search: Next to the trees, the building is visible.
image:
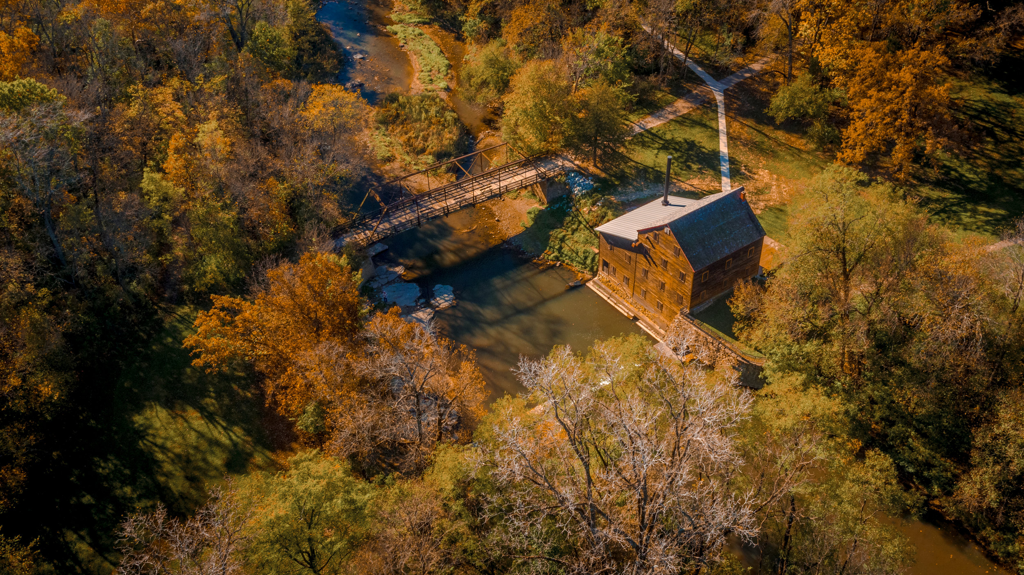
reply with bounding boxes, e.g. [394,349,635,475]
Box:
[596,197,769,343]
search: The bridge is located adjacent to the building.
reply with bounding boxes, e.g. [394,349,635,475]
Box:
[322,142,572,242]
